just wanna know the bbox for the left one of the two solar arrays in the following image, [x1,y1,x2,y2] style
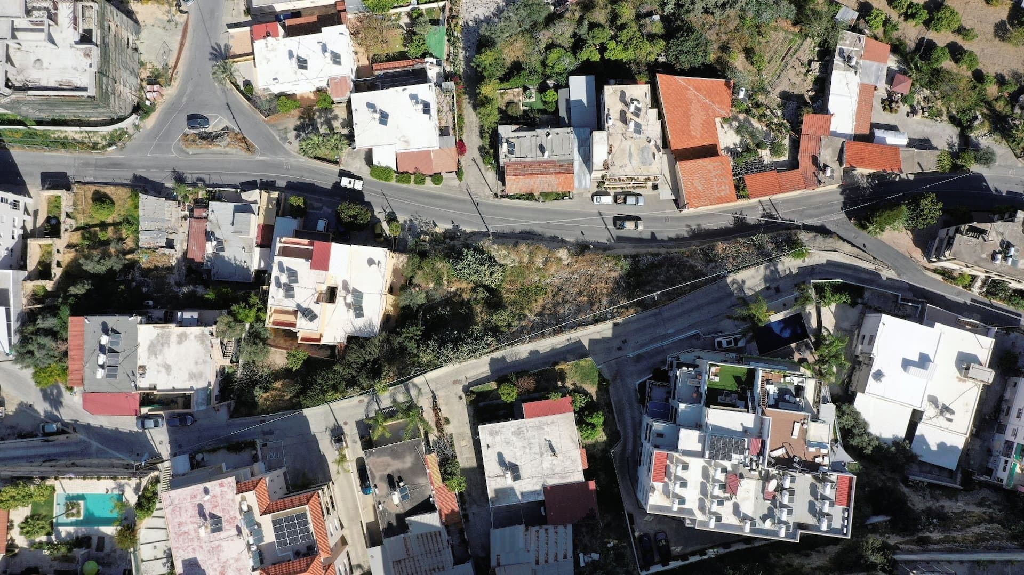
[272,512,314,549]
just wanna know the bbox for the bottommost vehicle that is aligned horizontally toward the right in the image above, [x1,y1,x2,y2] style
[715,336,745,349]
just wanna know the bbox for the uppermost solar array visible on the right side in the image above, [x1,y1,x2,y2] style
[708,433,746,464]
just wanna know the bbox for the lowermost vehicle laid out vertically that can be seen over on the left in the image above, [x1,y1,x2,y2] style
[358,465,372,494]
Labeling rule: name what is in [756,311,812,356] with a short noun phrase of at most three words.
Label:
swimming pool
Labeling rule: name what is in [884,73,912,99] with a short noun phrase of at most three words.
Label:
gazebo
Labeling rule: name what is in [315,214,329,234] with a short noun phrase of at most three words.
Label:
vehicle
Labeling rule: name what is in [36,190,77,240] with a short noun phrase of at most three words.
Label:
building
